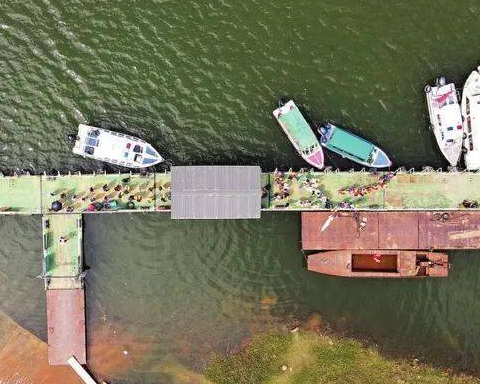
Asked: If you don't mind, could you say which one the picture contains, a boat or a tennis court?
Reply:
boat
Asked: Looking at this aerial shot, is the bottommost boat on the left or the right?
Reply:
right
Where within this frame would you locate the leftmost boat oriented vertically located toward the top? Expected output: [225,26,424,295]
[422,81,465,166]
